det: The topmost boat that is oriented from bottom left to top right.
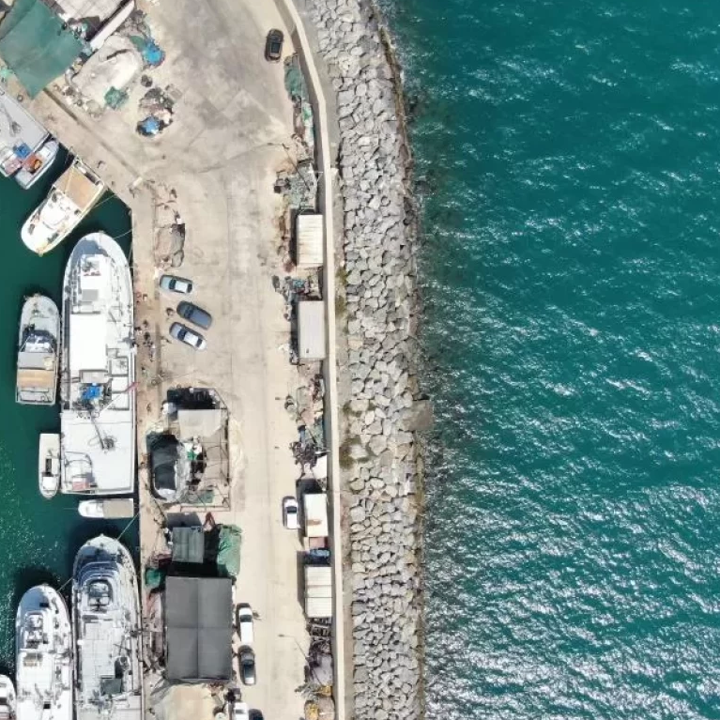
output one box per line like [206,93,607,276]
[14,137,57,189]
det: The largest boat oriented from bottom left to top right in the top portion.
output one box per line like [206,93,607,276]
[22,161,106,253]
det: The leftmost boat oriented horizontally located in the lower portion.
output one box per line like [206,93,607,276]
[77,498,134,519]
